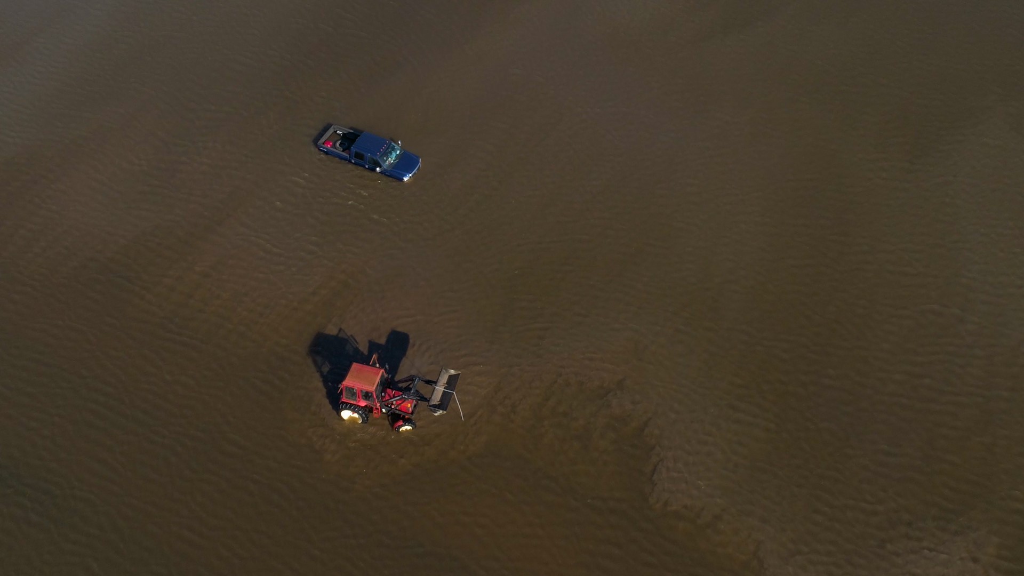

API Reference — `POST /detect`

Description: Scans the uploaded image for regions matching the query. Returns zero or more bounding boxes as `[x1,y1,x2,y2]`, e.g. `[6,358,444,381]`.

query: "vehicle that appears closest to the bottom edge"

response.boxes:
[334,354,460,431]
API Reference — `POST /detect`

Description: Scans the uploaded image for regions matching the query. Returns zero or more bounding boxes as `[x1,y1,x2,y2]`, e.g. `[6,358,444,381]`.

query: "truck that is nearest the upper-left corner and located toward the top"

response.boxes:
[317,124,424,181]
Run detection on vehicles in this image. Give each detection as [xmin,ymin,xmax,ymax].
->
[334,354,460,431]
[317,124,424,181]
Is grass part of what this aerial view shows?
No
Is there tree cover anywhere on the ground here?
No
